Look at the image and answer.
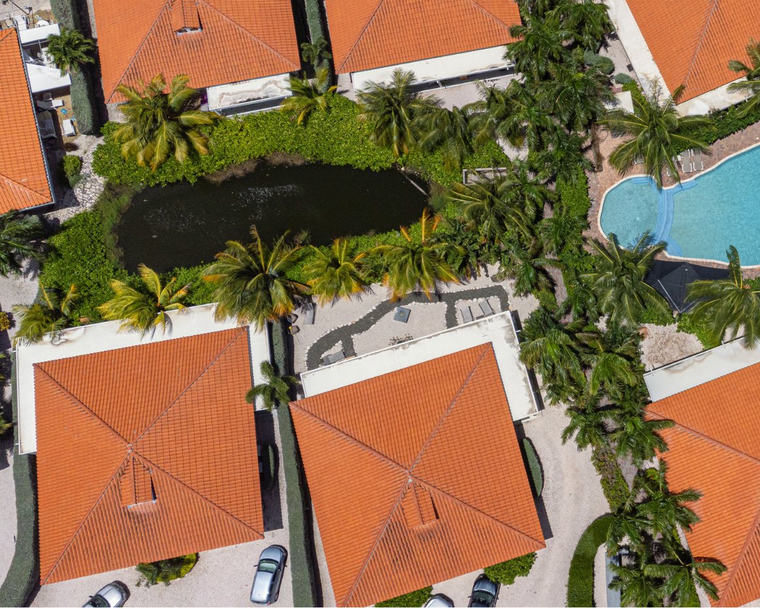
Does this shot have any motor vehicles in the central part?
No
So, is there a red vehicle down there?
No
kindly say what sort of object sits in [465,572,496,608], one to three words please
car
